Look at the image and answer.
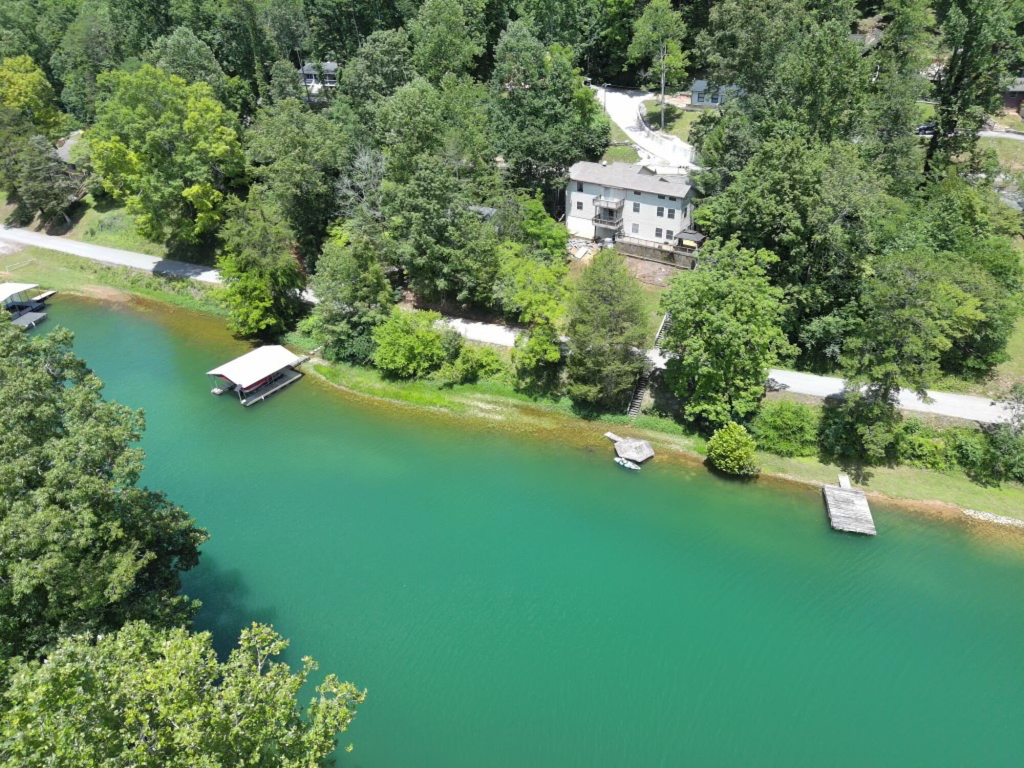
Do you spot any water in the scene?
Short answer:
Yes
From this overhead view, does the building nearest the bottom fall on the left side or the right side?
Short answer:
left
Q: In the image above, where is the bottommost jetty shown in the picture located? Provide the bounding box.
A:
[823,486,876,537]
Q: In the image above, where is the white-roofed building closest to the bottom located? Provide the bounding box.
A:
[206,343,306,411]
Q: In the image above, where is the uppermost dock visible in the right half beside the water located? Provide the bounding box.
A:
[614,438,654,465]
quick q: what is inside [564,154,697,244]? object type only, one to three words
house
